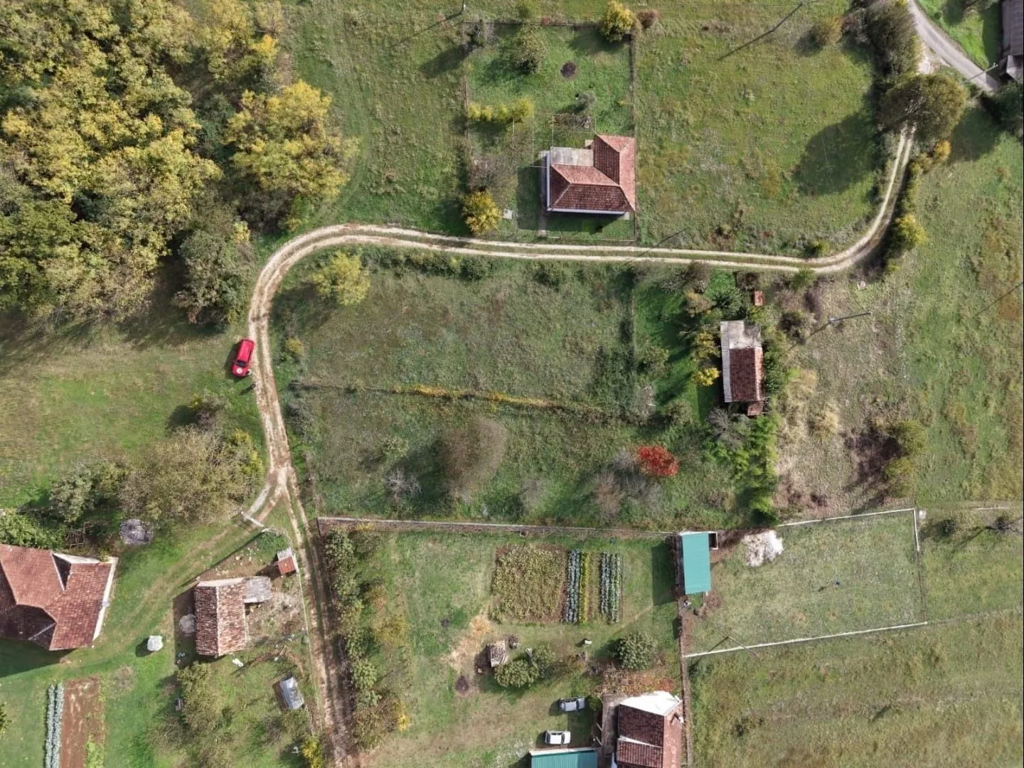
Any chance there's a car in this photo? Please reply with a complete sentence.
Yes, this view includes a car.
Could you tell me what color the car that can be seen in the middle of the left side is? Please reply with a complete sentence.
The car that can be seen in the middle of the left side looks red in the image.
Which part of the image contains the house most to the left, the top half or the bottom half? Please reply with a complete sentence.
You can find the house most to the left in the bottom half.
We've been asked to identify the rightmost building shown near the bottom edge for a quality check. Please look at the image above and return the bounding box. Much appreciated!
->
[591,680,684,768]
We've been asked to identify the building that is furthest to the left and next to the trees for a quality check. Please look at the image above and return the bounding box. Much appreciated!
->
[0,544,117,652]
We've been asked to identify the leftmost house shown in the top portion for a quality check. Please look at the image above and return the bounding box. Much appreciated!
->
[547,134,636,221]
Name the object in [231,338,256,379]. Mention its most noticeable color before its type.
red car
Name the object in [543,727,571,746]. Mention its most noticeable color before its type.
white car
